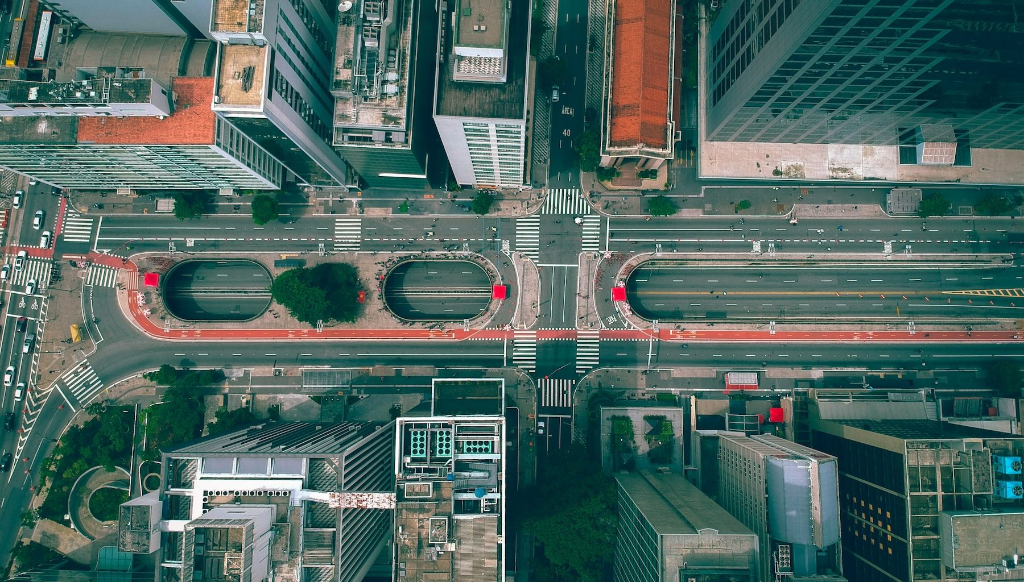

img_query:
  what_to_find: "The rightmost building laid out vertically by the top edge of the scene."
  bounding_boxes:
[596,0,677,189]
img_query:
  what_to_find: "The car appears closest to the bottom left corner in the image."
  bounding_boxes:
[1,448,18,477]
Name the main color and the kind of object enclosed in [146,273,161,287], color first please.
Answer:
red gazebo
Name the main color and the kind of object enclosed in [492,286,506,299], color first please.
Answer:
red gazebo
